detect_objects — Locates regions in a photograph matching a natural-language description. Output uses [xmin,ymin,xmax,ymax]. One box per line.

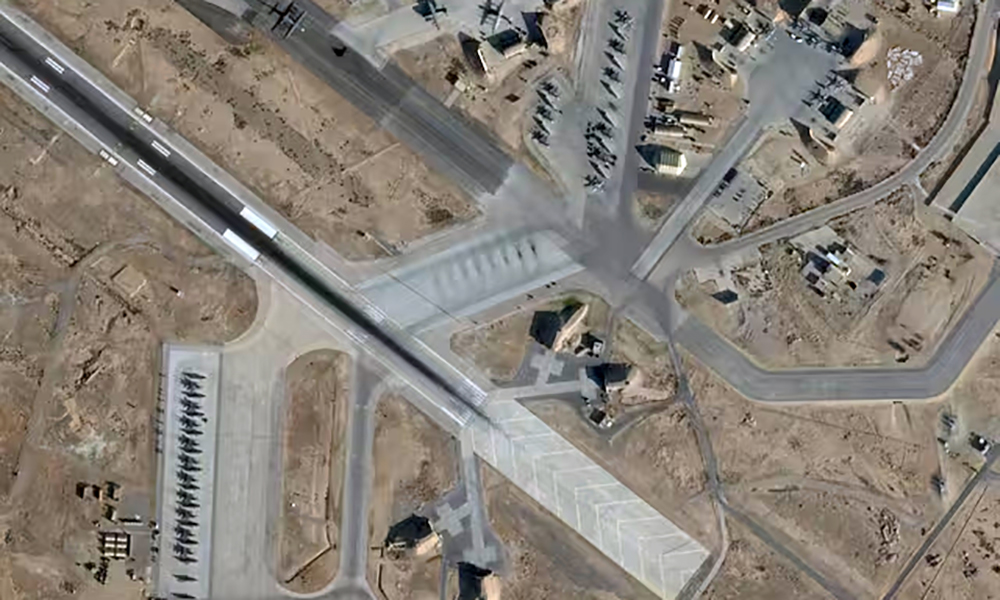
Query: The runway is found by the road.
[0,0,709,600]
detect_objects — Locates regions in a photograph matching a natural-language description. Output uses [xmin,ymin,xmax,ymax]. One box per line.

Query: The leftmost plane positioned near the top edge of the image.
[283,11,307,37]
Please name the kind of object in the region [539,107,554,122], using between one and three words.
airplane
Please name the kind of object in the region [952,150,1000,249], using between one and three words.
building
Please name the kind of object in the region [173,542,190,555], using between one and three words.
airplane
